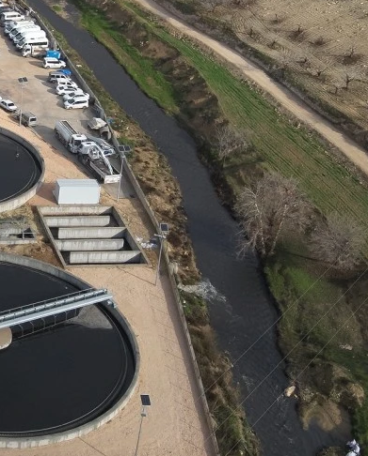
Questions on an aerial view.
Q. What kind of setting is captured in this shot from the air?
industrial area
